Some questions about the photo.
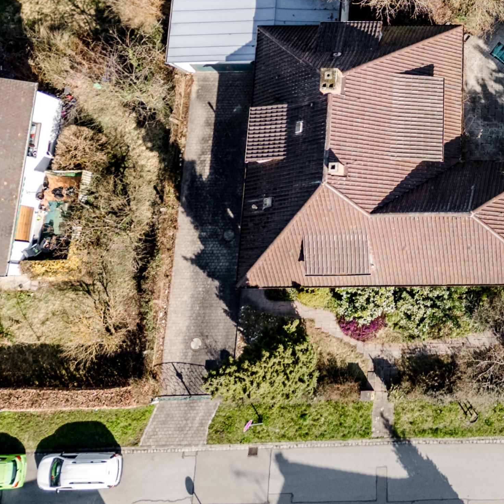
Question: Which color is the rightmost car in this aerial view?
white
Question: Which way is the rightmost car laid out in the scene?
horizontally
